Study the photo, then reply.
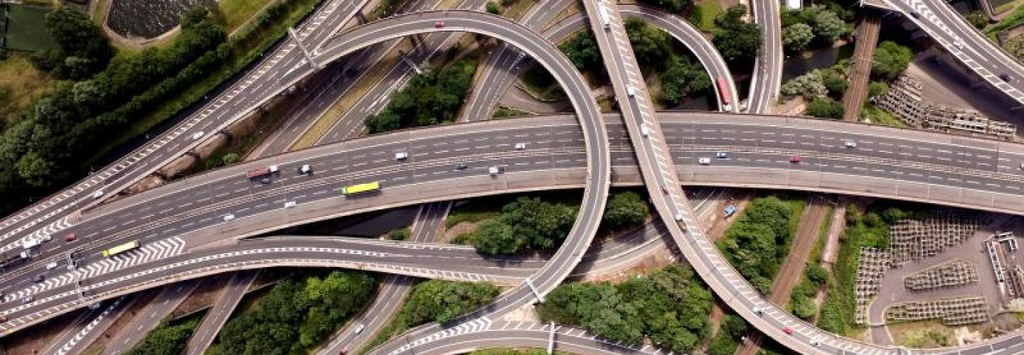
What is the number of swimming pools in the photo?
0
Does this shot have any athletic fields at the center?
No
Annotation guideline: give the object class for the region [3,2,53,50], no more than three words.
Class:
sports field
